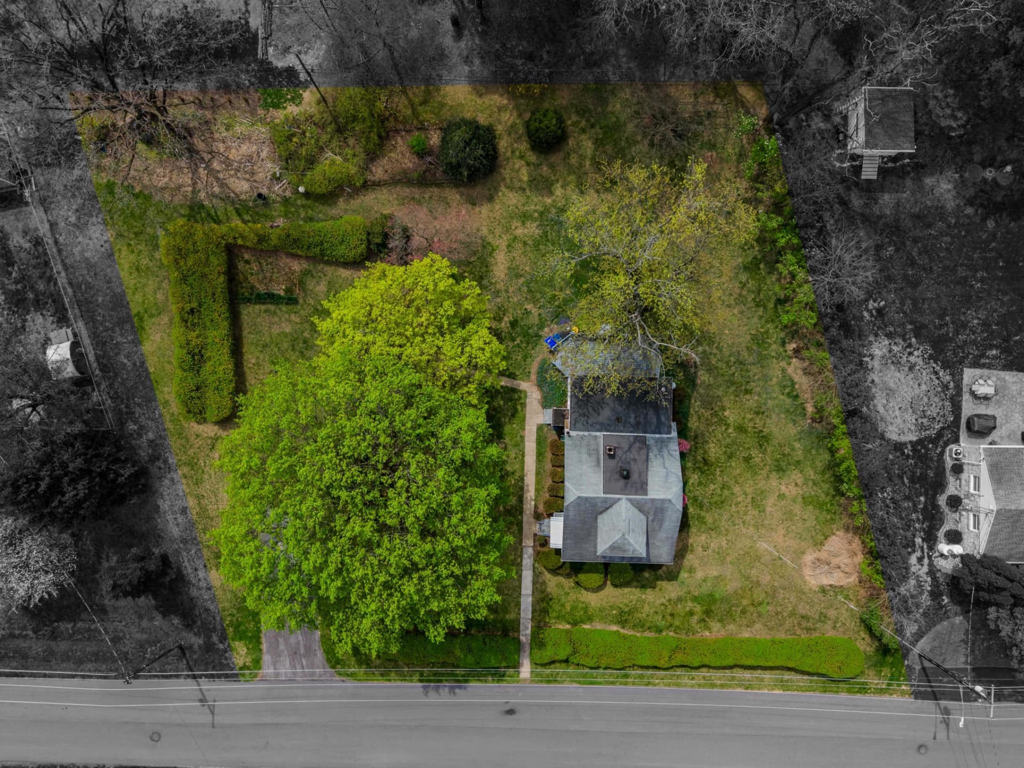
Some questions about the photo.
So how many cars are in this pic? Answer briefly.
0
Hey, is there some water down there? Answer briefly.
No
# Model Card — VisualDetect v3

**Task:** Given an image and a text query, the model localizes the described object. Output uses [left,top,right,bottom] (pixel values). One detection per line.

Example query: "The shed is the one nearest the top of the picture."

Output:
[851,87,917,158]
